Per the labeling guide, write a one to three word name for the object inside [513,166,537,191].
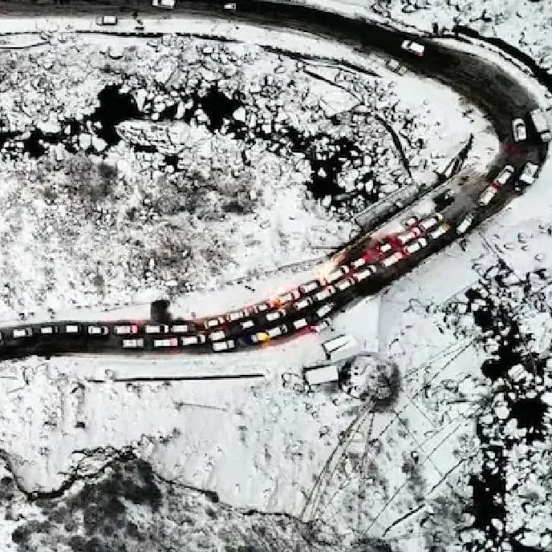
truck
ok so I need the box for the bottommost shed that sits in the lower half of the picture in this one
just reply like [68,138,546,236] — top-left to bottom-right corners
[303,365,339,384]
